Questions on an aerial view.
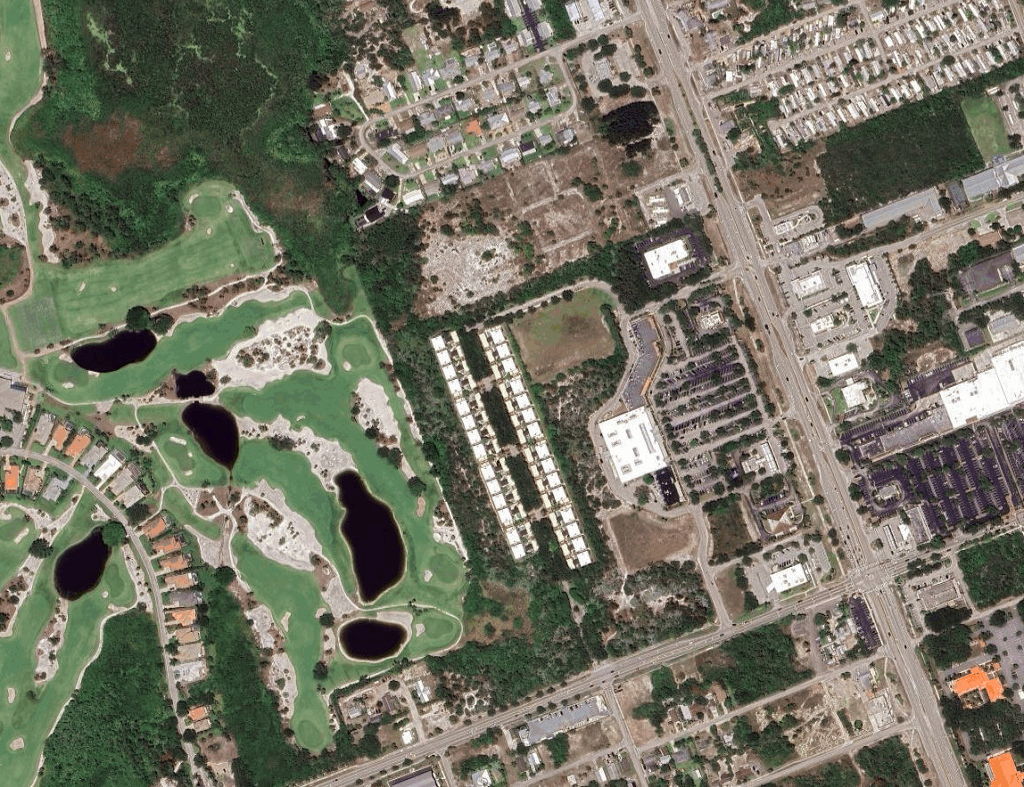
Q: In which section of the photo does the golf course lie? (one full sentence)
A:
The golf course appears toward the left of the photo.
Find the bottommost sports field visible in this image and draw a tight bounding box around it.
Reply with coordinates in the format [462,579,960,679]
[964,95,1009,158]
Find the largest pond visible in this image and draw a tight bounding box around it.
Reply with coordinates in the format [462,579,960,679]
[335,470,405,605]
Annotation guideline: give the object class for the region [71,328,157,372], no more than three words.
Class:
pond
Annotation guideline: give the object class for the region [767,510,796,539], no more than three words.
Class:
building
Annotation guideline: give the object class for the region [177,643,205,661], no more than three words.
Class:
house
